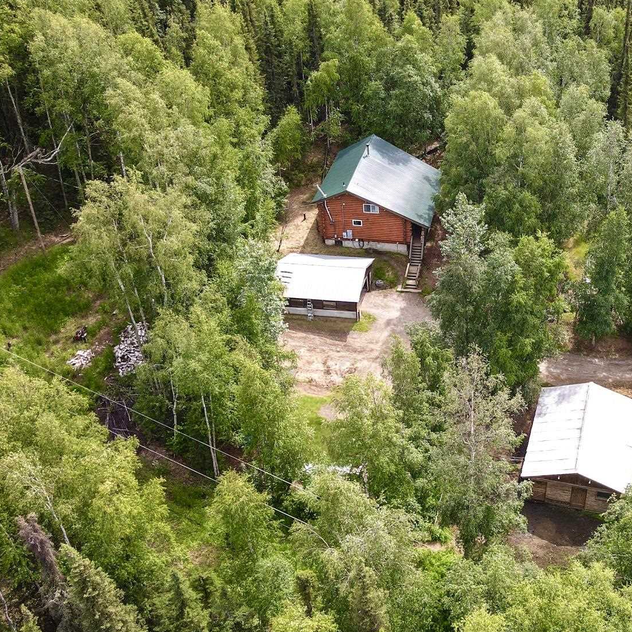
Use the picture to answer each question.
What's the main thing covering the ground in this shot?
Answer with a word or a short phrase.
trees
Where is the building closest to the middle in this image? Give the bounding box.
[273,253,375,322]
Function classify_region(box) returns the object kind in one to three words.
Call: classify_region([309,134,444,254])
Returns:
house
